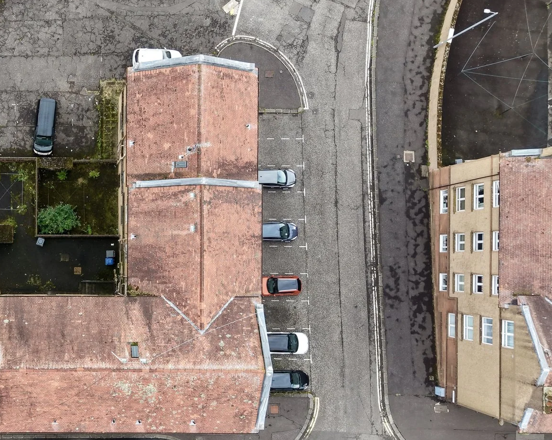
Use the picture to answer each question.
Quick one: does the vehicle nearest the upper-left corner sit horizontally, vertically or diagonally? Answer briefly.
vertically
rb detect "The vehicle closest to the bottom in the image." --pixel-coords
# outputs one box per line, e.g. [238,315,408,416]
[274,369,310,395]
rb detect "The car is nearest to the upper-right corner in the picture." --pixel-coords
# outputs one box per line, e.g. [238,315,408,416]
[260,165,296,191]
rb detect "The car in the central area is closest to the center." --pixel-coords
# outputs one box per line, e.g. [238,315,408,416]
[262,219,297,246]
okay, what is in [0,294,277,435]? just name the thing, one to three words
building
